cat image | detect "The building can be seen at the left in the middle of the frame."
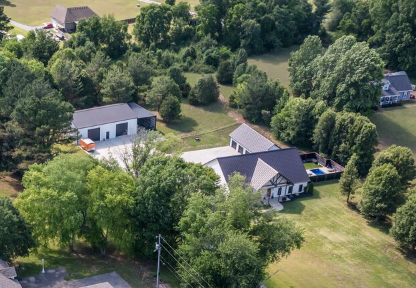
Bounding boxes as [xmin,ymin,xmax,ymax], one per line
[58,101,156,144]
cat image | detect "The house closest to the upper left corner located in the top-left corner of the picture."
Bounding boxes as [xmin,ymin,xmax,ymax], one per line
[47,5,100,31]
